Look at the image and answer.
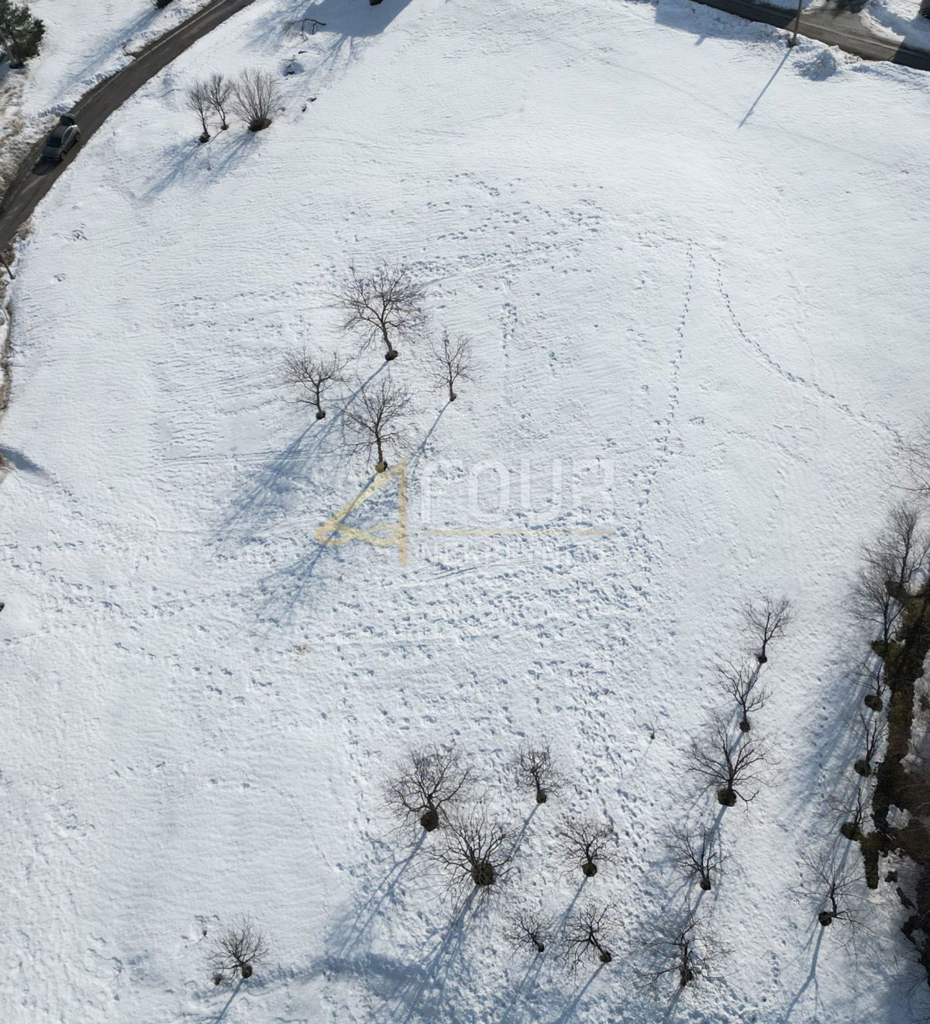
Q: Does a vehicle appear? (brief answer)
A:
Yes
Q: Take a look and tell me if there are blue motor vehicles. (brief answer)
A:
No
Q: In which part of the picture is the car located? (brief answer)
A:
top left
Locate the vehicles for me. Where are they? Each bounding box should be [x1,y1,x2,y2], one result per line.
[38,112,80,158]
